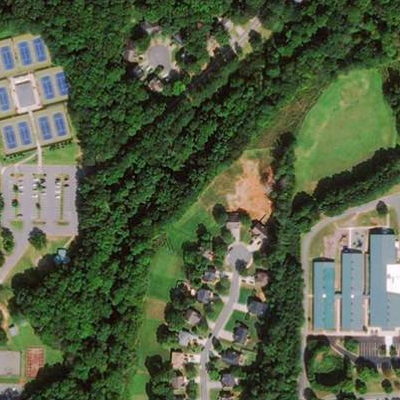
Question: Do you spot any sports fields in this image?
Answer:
Yes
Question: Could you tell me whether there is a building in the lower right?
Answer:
Yes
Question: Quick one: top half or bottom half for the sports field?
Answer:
top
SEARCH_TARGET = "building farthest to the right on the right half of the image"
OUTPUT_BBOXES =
[370,233,400,335]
